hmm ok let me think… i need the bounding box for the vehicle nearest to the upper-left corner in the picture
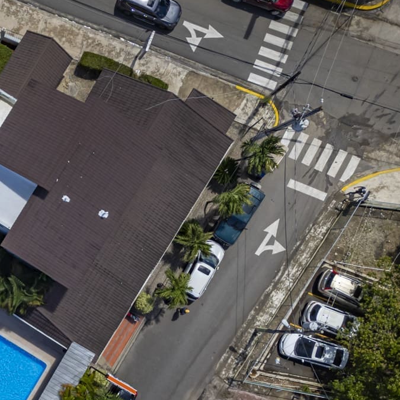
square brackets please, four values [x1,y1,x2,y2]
[111,0,184,33]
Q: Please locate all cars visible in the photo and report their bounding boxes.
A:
[180,236,231,307]
[291,302,359,344]
[302,268,373,310]
[212,180,268,247]
[226,0,291,17]
[111,0,184,33]
[274,333,351,371]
